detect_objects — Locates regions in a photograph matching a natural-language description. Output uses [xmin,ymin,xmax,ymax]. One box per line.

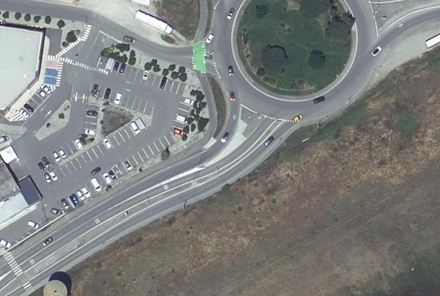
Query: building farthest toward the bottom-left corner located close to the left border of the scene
[0,192,29,222]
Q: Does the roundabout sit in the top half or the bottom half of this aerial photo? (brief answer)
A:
top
